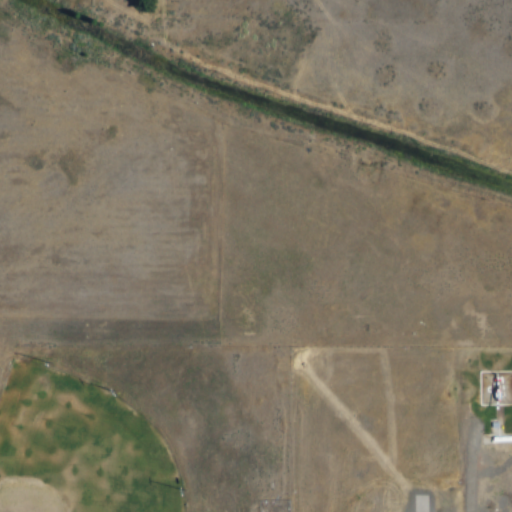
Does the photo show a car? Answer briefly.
No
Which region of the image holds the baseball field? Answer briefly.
bottom left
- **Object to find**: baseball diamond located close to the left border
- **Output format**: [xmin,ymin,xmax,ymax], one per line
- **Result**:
[0,354,184,512]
